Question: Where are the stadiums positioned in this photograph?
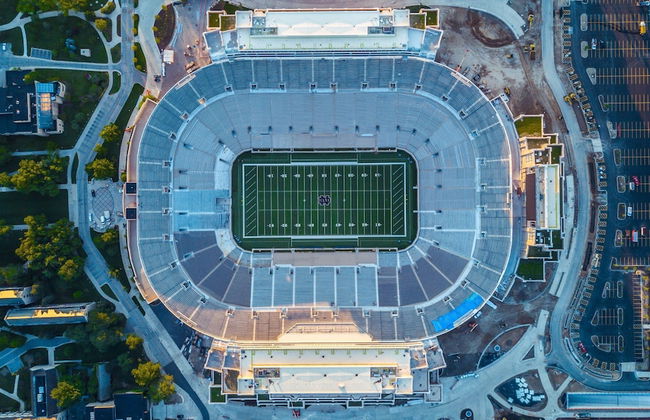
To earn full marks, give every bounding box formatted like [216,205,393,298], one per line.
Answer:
[135,56,514,343]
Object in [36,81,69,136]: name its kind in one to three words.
building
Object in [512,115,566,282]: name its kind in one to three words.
building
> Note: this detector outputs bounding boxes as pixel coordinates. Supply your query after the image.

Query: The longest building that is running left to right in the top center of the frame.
[204,8,442,64]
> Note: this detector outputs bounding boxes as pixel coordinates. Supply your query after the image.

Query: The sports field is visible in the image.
[233,151,416,250]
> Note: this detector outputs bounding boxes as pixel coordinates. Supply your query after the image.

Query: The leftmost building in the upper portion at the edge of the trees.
[0,71,43,133]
